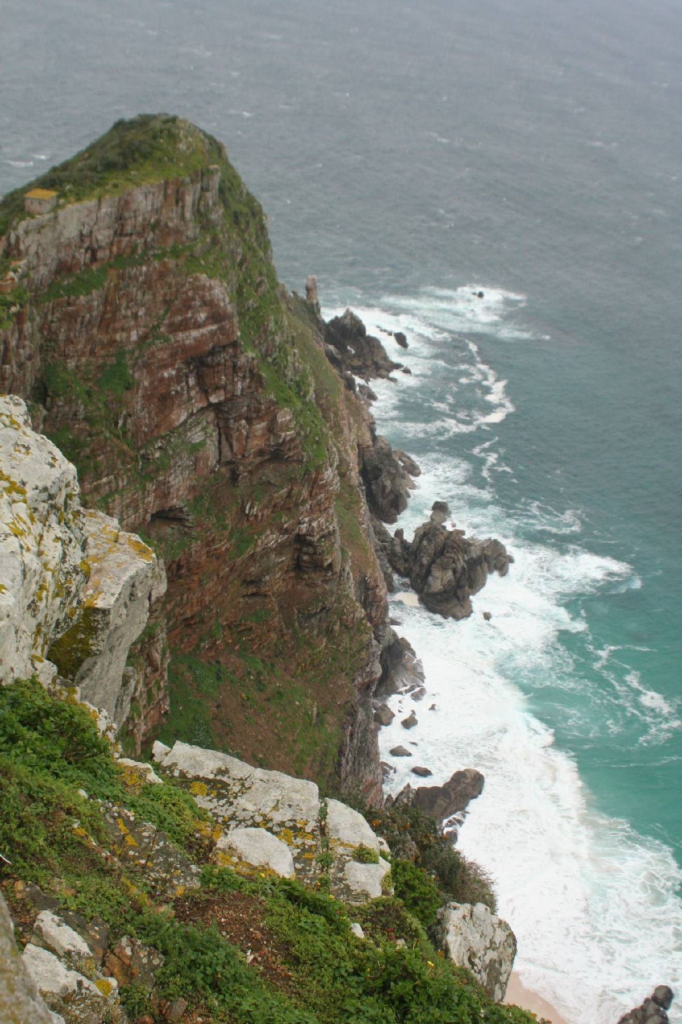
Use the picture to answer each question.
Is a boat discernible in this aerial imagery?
No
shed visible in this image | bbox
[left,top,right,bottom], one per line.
[26,190,61,222]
